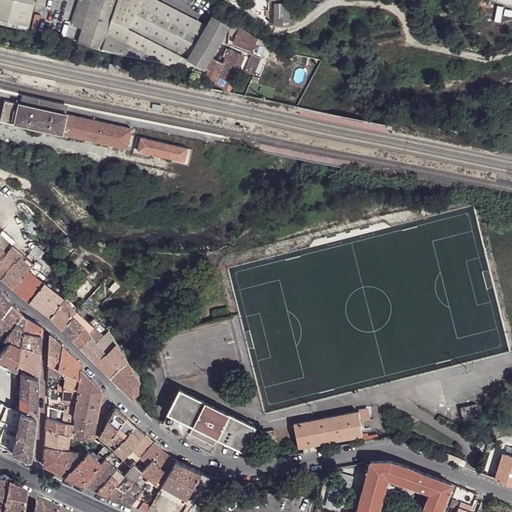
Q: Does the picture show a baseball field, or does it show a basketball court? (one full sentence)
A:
I can see a basketball court in this picture.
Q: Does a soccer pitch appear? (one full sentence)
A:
Yes, the image includes a soccer pitch.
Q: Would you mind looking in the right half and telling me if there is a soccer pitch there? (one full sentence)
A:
Yes, the scene does show a soccer pitch in the right half.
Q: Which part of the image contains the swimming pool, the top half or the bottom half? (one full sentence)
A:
It is in the top half that the swimming pool appears.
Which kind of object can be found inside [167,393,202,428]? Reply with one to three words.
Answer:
building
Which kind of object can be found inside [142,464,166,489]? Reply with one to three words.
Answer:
house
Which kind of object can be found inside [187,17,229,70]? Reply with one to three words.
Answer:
shed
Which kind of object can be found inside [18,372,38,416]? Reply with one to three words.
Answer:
house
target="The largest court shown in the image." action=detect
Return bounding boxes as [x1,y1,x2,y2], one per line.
[164,321,244,379]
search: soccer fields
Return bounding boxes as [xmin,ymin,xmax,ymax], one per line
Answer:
[230,206,508,412]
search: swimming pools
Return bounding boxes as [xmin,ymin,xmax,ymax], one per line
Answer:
[290,62,310,88]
